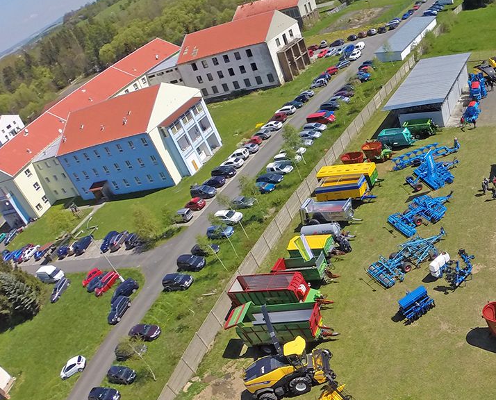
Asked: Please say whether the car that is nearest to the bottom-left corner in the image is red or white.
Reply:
white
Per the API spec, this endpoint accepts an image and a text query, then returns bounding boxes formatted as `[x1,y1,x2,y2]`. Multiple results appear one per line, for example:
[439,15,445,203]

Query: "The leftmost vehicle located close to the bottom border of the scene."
[60,351,89,383]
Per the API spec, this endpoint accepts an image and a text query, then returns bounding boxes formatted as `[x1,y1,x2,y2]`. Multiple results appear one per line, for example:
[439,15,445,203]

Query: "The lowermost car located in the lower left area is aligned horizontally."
[86,383,123,400]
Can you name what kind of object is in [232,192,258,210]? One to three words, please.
car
